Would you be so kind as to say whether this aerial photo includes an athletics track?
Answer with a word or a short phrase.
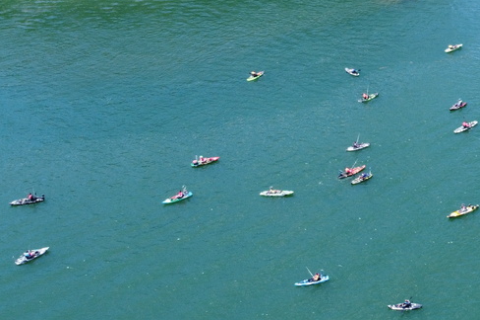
No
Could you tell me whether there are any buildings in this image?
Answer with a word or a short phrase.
No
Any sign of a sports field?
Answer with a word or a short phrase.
No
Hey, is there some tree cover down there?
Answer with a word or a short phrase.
No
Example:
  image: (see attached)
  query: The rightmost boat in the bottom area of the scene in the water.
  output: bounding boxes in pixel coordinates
[448,204,479,217]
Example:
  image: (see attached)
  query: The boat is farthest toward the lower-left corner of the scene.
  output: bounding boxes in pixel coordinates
[14,246,47,265]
